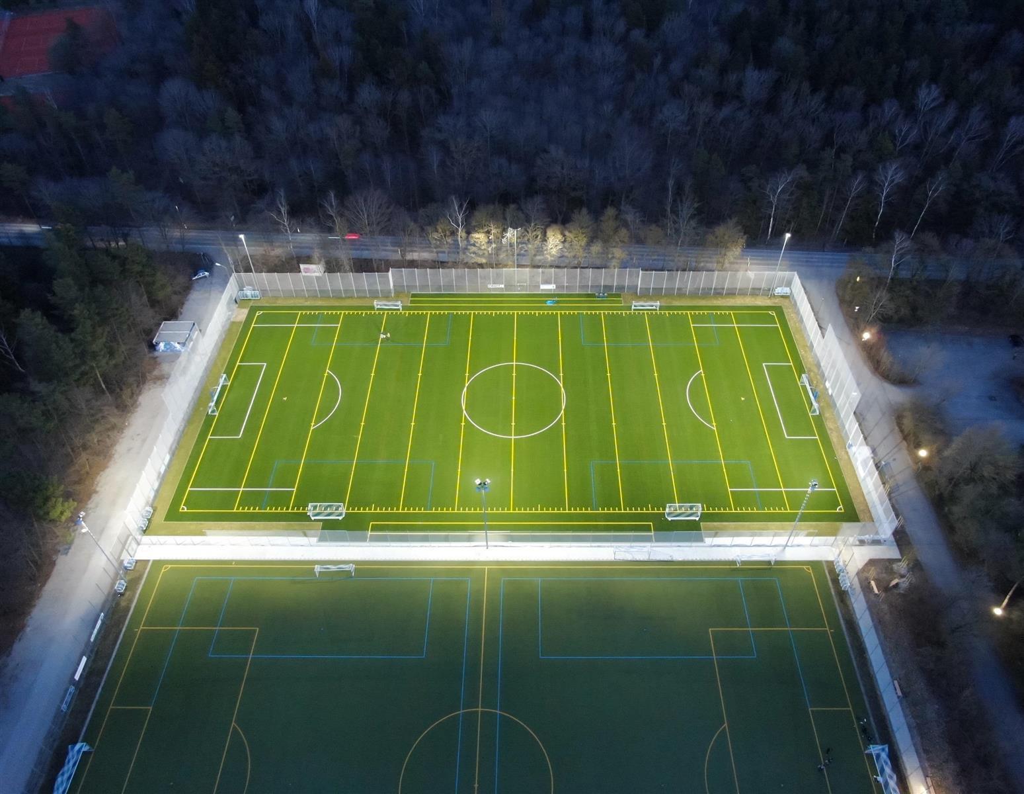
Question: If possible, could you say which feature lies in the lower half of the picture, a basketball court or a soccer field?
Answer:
soccer field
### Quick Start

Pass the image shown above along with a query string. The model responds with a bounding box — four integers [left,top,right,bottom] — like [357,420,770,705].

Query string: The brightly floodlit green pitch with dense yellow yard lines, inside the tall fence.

[164,292,862,537]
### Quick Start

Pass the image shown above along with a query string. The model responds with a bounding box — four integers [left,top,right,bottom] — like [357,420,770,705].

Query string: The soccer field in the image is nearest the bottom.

[66,559,886,794]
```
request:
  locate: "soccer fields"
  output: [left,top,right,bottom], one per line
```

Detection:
[164,292,862,537]
[66,559,886,794]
